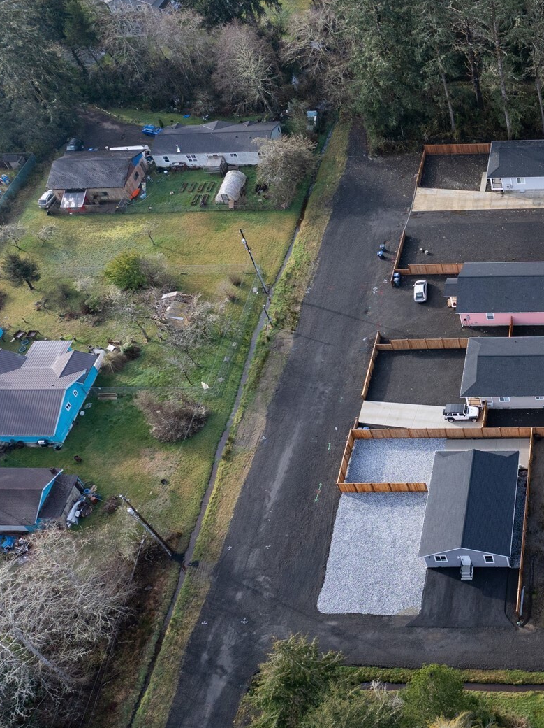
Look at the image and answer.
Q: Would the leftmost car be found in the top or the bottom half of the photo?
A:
top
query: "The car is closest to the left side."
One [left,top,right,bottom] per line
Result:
[32,191,57,211]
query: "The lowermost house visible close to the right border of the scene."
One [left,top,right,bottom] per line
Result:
[418,449,520,566]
